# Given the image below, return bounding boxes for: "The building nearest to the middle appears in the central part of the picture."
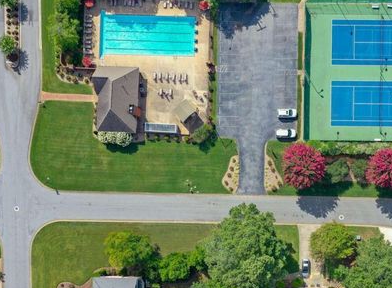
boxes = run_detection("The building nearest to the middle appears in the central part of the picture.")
[174,101,204,133]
